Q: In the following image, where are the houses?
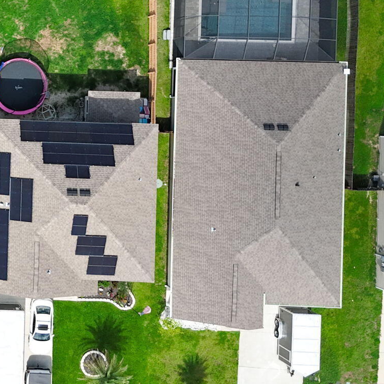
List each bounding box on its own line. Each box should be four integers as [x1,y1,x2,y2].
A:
[375,137,384,291]
[0,91,159,301]
[159,57,351,328]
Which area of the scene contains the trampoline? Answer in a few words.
top left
